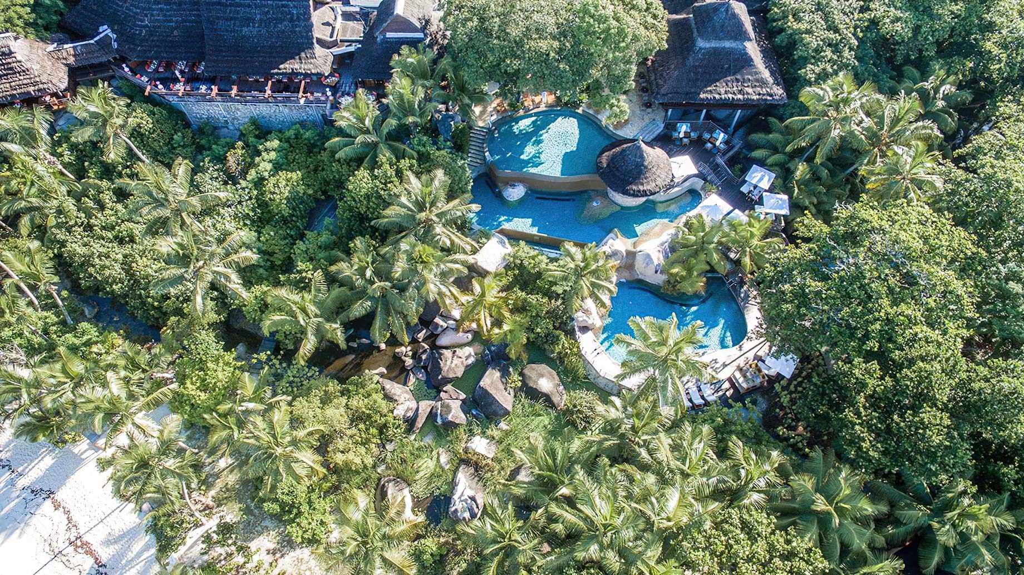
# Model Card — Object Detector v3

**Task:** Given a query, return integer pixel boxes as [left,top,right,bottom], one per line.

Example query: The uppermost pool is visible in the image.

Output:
[483,103,622,194]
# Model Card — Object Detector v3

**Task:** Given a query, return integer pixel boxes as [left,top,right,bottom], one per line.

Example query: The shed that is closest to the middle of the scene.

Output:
[596,136,674,214]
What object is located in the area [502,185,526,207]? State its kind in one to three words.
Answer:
fountain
